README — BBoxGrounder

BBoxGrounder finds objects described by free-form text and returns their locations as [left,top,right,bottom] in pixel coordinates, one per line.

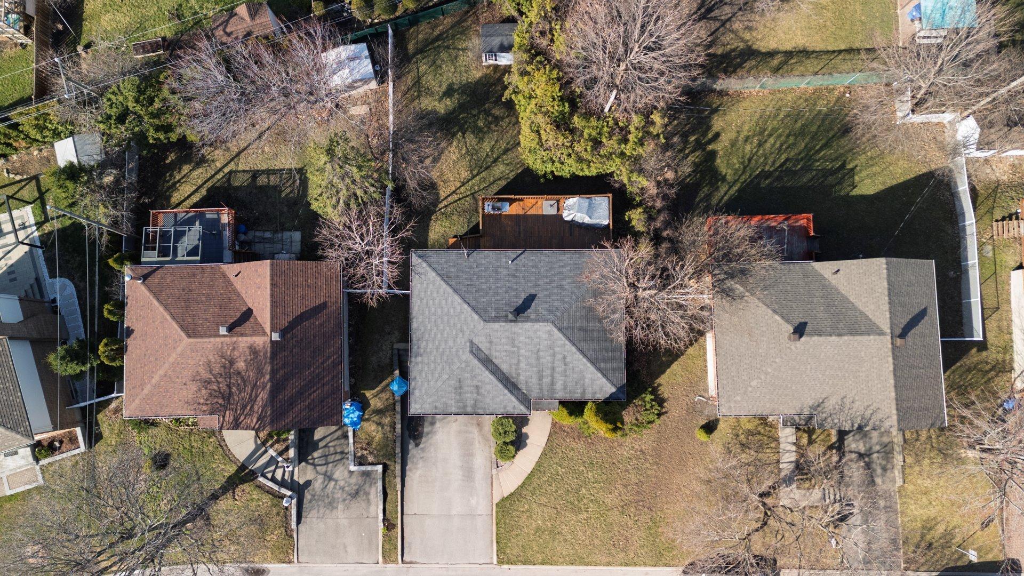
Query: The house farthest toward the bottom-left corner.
[0,295,80,468]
